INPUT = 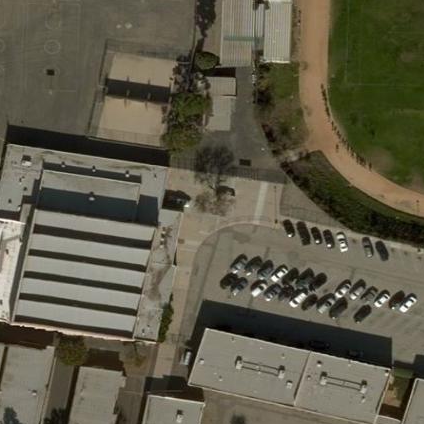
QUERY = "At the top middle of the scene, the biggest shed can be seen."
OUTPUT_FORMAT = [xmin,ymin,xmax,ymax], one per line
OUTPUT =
[205,97,234,132]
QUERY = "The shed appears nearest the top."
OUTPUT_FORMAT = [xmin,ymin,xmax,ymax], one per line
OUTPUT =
[207,77,236,97]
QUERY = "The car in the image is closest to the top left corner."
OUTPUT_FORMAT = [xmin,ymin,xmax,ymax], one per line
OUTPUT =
[169,195,190,208]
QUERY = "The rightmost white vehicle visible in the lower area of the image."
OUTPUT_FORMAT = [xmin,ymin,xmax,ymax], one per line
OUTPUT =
[399,294,417,312]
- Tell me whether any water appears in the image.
No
